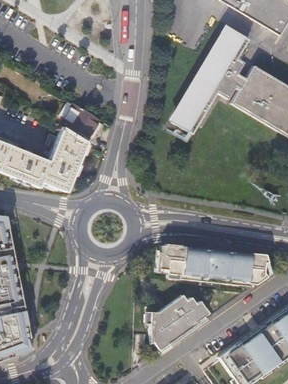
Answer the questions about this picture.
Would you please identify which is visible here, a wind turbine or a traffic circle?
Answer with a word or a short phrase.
traffic circle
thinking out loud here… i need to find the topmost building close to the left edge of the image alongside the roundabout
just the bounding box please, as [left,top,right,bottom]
[0,127,92,196]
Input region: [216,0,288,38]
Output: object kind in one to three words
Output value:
building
